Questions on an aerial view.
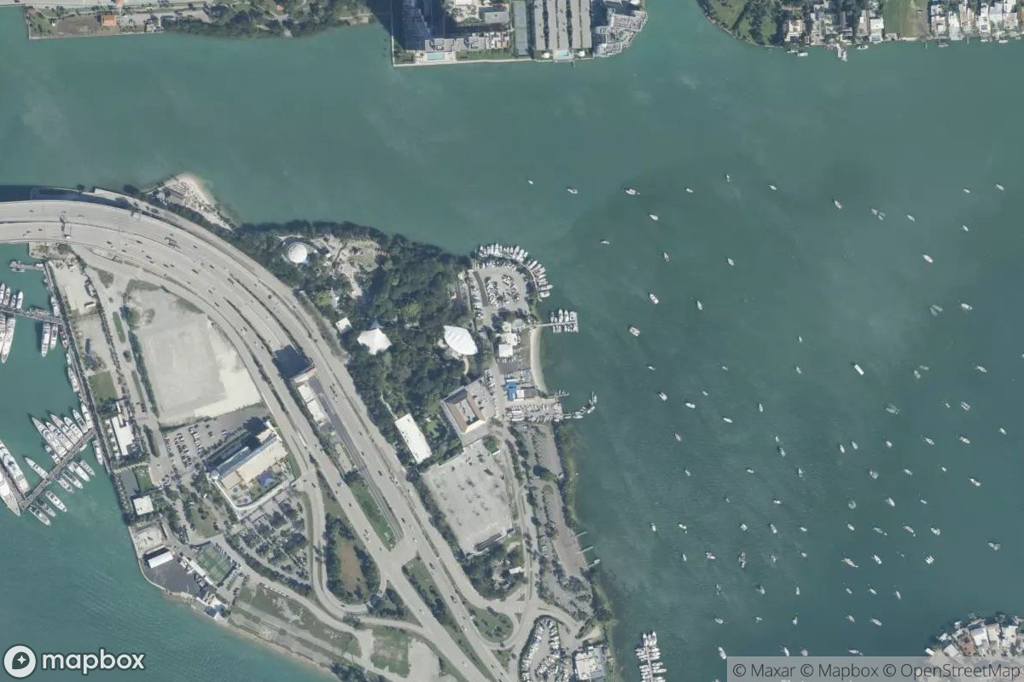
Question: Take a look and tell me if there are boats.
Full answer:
Yes, there is a boat in the image.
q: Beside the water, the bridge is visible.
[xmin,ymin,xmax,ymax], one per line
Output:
[0,200,176,279]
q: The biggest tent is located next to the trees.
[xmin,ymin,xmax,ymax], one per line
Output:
[358,328,392,355]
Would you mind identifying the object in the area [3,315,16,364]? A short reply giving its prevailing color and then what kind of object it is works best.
white boat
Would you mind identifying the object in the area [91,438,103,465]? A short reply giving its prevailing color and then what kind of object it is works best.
white boat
